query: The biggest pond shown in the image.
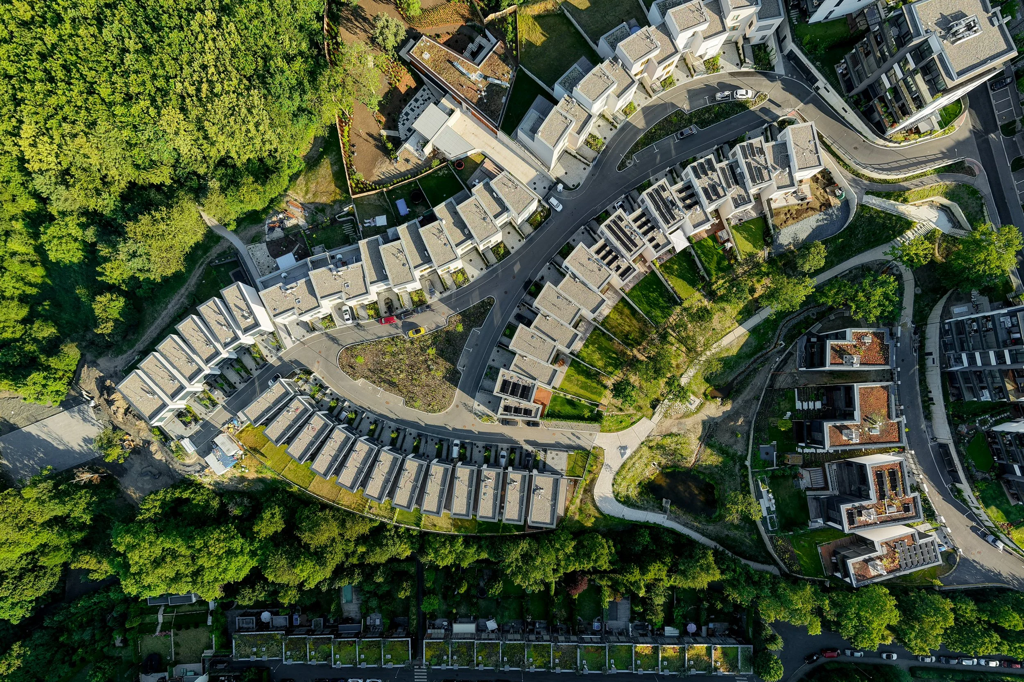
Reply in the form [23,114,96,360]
[649,471,717,517]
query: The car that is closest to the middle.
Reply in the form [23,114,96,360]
[513,312,532,326]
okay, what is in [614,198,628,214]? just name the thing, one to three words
car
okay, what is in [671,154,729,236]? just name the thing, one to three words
house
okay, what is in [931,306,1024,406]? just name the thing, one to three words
building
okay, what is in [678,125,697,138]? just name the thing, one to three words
vehicle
